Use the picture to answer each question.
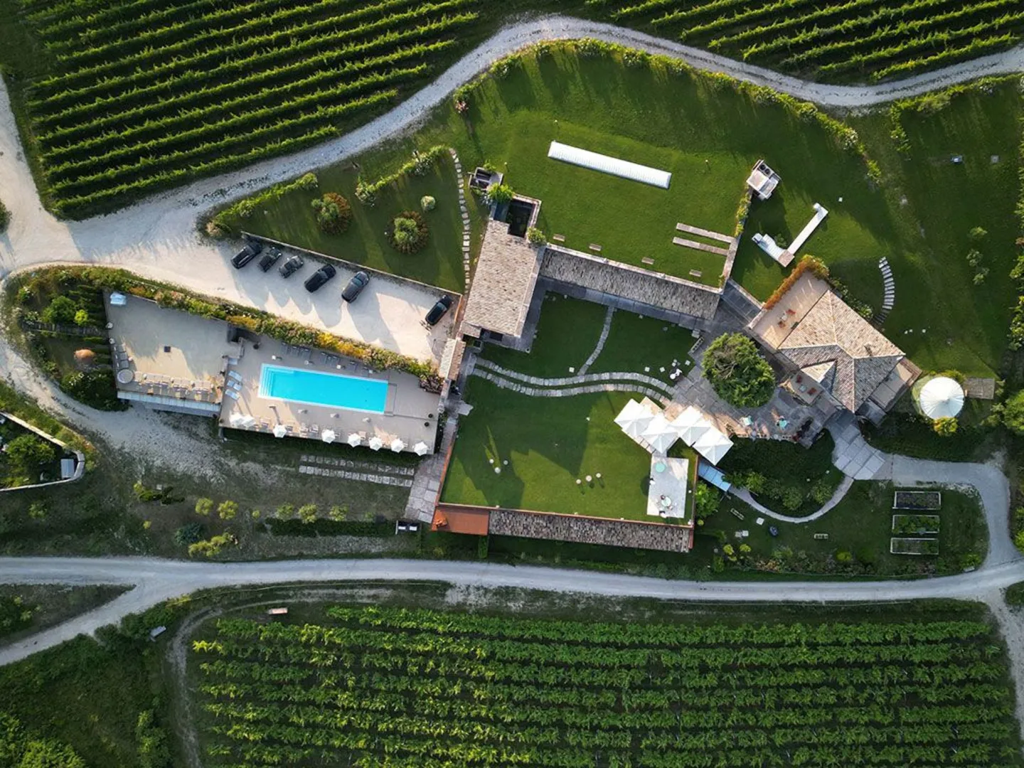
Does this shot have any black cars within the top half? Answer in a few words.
Yes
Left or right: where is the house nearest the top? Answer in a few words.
right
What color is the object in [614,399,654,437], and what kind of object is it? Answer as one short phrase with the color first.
white umbrella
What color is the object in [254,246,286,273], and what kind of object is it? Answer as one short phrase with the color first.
black car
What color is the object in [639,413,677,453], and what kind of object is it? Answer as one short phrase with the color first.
white umbrella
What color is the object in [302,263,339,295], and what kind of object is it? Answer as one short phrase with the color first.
black car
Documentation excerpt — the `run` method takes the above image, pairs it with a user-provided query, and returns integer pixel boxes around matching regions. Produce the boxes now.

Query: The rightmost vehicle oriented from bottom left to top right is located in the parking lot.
[421,293,455,328]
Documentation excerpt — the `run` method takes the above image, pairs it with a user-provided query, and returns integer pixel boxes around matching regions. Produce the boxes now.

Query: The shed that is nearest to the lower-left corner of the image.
[61,459,80,478]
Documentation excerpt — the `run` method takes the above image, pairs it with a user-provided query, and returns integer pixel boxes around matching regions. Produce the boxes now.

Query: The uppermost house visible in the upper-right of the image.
[744,158,784,201]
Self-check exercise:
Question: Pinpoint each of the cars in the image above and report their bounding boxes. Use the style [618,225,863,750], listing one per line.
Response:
[339,270,372,304]
[229,241,266,272]
[302,263,339,295]
[275,254,307,281]
[254,246,286,273]
[421,293,455,328]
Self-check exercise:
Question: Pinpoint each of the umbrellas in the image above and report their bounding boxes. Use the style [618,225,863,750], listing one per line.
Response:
[322,429,336,443]
[693,419,734,465]
[231,412,244,427]
[243,414,257,427]
[639,413,677,453]
[614,399,654,437]
[347,433,362,447]
[369,437,383,450]
[274,423,287,438]
[670,406,707,446]
[414,442,429,455]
